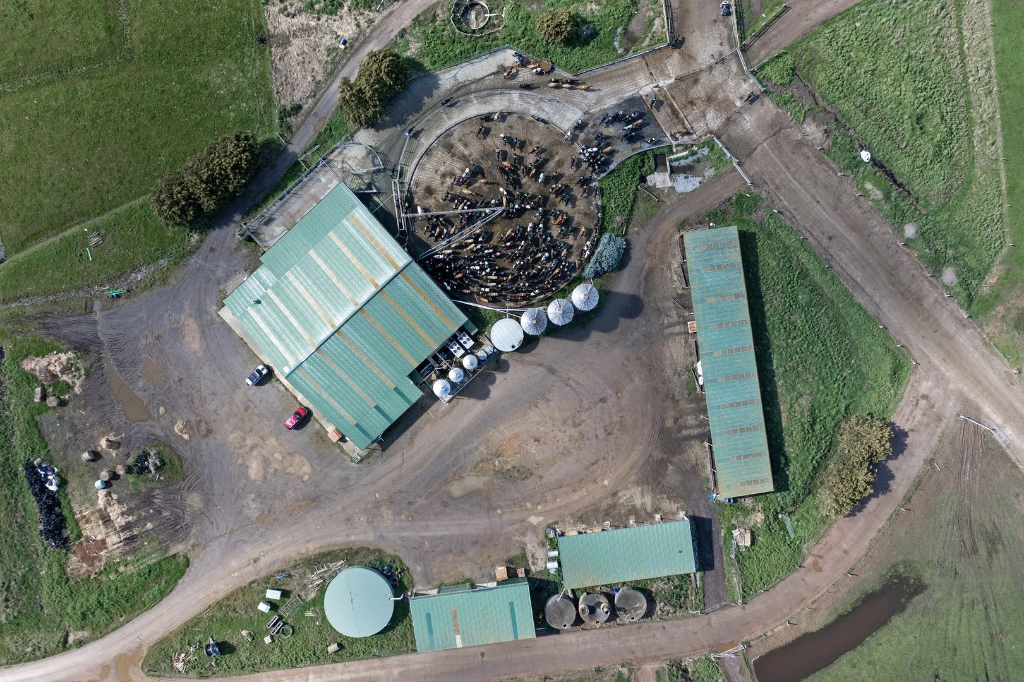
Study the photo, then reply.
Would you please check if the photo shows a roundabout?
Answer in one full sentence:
No, there appears to be no roundabout in this shot.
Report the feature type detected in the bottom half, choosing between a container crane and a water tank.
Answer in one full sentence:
The one visible in the bottom half is a water tank.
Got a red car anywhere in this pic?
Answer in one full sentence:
Yes, looking at the shot, I can spot a red car.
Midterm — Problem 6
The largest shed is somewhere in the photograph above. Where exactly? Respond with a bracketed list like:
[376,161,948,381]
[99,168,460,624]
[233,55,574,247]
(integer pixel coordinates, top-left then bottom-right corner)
[223,155,468,450]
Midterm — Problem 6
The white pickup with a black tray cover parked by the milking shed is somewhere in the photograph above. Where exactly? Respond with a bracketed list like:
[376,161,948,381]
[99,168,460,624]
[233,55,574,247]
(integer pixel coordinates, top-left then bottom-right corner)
[242,363,272,388]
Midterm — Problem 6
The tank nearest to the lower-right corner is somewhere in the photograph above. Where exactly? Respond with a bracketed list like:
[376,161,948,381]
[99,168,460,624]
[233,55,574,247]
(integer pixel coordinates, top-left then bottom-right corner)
[613,585,647,621]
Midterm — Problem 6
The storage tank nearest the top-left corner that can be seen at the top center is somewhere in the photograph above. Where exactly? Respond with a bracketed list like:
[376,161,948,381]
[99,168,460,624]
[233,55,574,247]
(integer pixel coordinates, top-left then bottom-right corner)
[463,0,499,30]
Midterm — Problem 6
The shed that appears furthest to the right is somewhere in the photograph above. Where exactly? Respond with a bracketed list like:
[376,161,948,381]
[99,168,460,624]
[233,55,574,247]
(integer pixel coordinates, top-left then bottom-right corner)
[677,226,774,499]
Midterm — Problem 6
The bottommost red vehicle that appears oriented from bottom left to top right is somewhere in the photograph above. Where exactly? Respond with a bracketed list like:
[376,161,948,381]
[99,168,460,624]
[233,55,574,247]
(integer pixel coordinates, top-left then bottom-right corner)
[282,406,309,431]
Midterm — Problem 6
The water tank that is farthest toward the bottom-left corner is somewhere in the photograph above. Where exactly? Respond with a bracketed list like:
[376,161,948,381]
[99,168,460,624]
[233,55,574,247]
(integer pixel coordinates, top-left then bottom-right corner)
[324,562,405,637]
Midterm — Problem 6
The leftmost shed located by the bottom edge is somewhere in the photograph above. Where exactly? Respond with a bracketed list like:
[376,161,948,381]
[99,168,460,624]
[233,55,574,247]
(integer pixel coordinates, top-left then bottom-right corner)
[409,573,536,654]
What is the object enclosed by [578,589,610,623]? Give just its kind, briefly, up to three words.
storage tank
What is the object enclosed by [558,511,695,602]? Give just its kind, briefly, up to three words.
shed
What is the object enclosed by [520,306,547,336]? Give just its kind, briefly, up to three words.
silo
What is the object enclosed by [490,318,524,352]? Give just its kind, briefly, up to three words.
storage tank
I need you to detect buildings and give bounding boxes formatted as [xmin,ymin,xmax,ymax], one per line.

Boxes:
[223,155,468,450]
[558,511,695,602]
[677,226,774,499]
[409,573,536,654]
